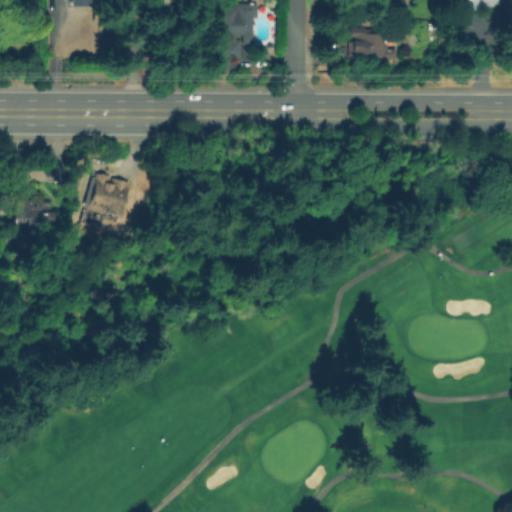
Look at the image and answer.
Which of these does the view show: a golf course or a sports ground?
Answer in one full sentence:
What you see here is a golf course.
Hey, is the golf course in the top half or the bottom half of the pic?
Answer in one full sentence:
Seen from above, the golf course lies in the bottom half of the view.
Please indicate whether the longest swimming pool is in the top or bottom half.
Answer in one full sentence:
The longest swimming pool is in the top half of the image.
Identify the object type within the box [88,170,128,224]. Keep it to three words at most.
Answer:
house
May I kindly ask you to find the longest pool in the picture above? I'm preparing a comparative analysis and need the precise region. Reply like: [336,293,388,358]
[255,5,276,47]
